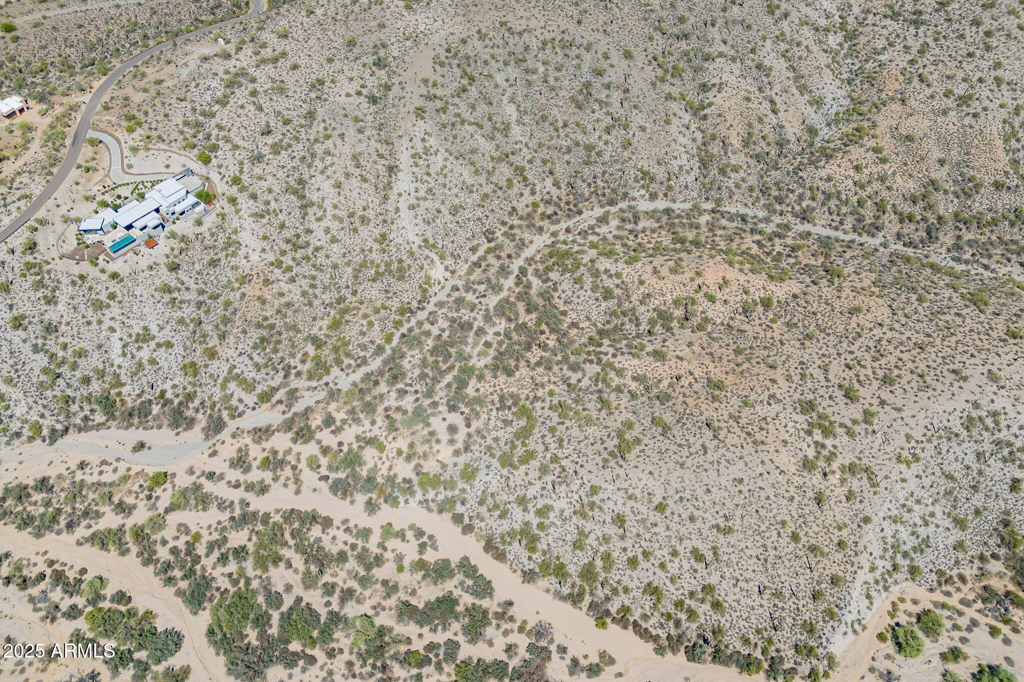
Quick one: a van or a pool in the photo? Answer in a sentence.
The one in the frame is a pool.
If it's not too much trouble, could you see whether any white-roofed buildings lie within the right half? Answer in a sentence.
No, I can find no white-roofed building within the right half.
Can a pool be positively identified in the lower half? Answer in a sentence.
No, no pool is visible in the lower half.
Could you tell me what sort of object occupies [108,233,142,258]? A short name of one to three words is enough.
swimming pool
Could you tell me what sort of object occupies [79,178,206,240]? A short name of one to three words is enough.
house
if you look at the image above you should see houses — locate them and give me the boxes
[0,96,30,121]
[79,178,206,240]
